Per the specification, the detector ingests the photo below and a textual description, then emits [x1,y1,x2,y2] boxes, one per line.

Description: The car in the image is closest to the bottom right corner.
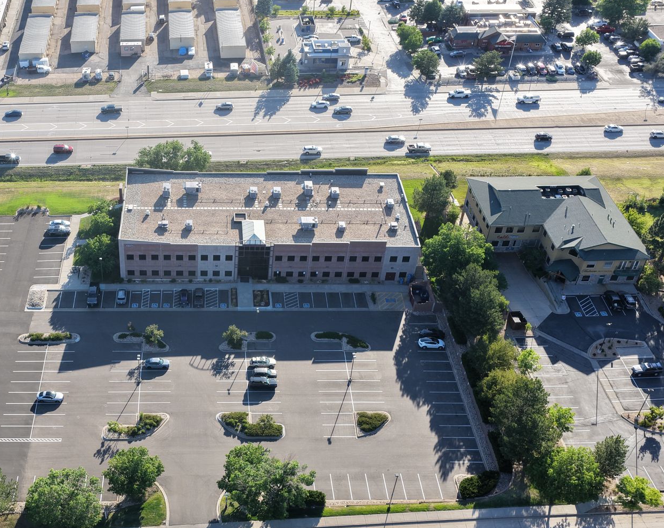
[632,363,662,377]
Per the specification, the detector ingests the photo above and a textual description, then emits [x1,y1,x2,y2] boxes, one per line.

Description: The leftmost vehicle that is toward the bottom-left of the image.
[36,392,65,404]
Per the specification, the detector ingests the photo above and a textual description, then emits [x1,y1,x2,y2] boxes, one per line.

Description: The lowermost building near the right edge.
[462,176,649,296]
